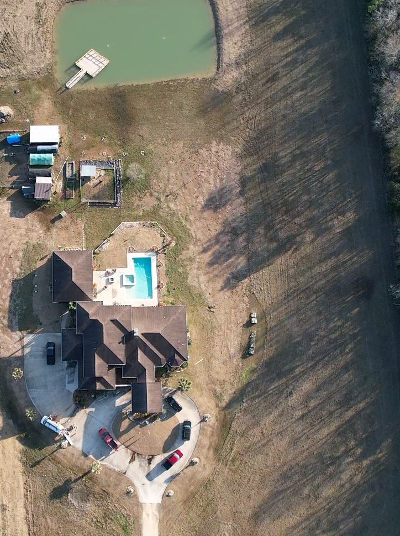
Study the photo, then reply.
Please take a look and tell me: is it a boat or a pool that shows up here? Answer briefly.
pool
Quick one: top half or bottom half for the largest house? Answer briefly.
bottom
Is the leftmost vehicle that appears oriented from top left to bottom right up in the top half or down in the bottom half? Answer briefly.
bottom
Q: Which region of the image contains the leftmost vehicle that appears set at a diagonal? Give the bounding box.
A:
[40,416,65,436]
